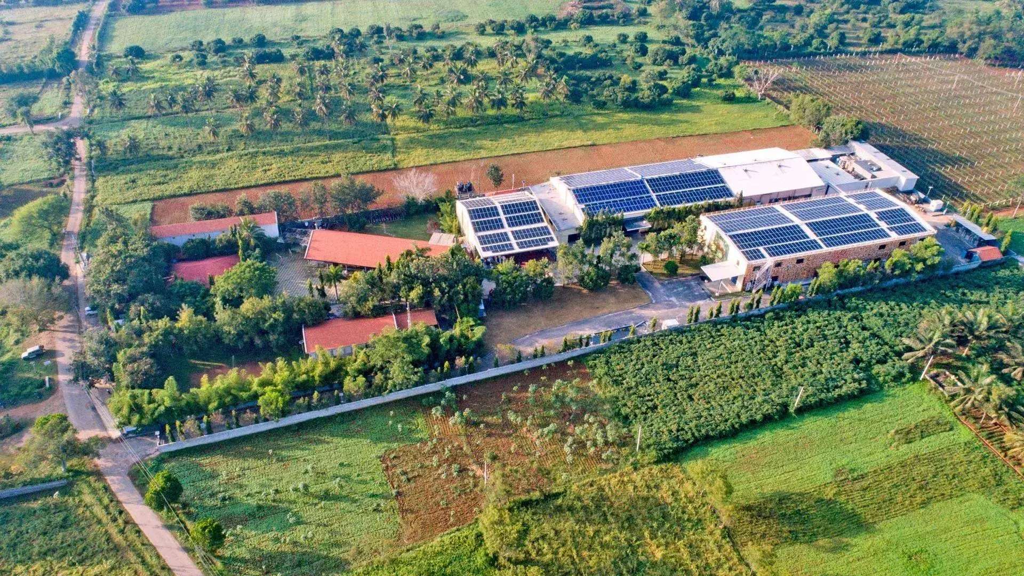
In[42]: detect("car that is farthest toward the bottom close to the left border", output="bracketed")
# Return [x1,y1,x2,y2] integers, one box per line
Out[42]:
[19,342,48,359]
